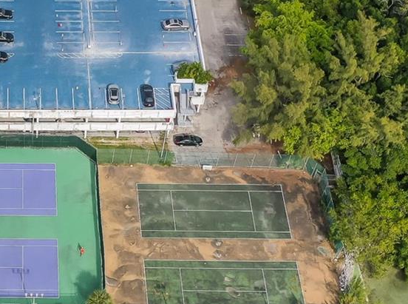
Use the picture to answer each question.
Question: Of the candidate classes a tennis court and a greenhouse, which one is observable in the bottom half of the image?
tennis court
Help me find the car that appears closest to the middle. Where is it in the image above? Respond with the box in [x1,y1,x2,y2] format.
[175,134,201,147]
